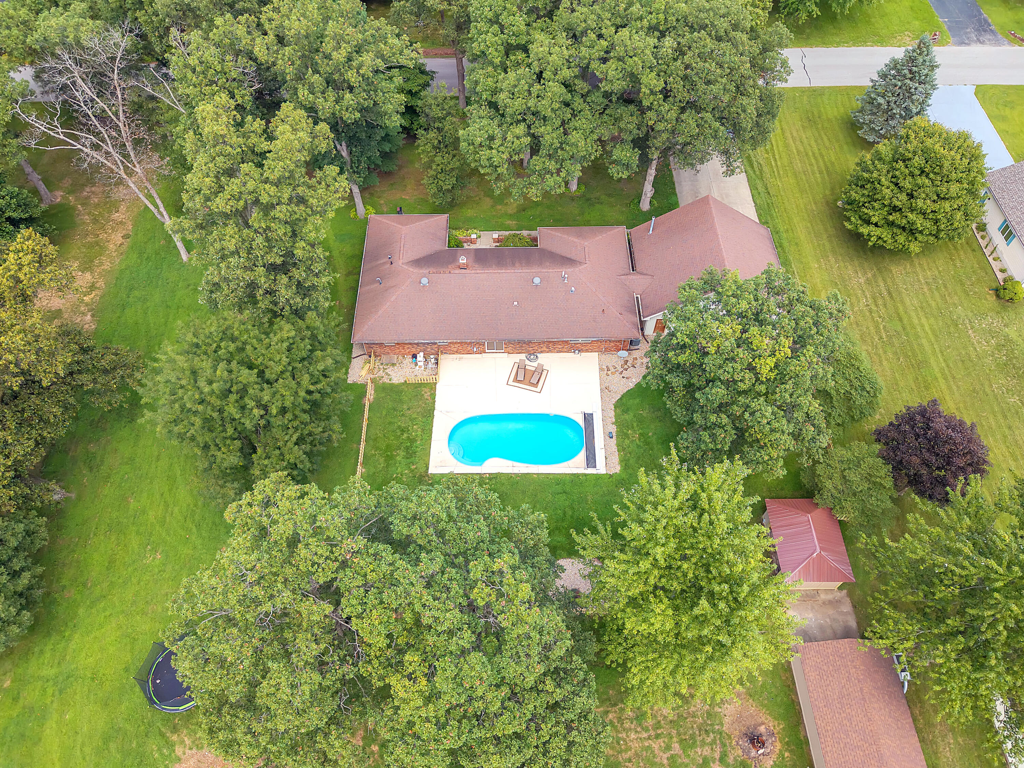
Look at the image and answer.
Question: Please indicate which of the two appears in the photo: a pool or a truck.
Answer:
pool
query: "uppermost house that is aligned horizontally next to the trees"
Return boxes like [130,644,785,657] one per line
[349,194,790,359]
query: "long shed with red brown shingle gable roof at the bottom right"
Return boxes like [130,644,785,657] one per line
[789,639,924,768]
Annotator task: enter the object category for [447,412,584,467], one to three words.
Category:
swimming pool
